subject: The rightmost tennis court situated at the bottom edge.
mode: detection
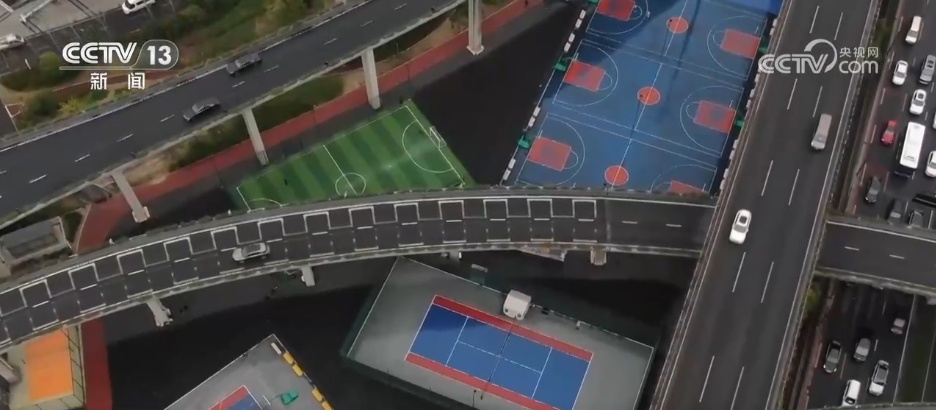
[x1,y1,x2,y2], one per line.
[344,257,652,410]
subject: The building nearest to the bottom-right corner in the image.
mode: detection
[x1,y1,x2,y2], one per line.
[503,289,532,318]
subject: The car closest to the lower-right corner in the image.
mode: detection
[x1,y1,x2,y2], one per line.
[867,362,888,399]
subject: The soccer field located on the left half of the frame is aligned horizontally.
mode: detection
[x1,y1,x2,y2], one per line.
[226,99,477,211]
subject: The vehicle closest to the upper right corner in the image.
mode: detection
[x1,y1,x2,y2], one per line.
[905,21,922,46]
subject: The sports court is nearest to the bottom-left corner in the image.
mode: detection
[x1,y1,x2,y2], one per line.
[0,327,82,410]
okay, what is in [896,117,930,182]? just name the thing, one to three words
bus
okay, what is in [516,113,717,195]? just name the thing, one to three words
basketball court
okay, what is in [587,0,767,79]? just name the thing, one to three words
basketball court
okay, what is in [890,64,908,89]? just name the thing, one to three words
car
